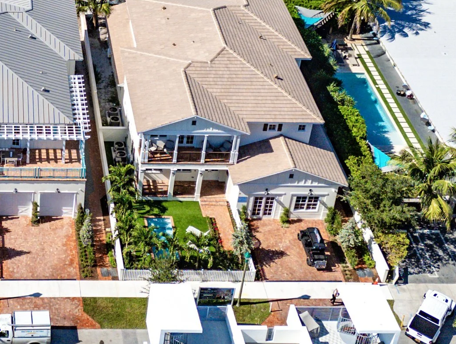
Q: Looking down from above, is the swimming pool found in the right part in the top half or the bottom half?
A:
top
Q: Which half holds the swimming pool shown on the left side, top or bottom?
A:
bottom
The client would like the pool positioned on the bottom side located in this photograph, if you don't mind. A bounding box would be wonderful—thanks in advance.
[144,215,182,260]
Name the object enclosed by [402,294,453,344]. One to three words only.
truck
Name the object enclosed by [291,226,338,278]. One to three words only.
car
